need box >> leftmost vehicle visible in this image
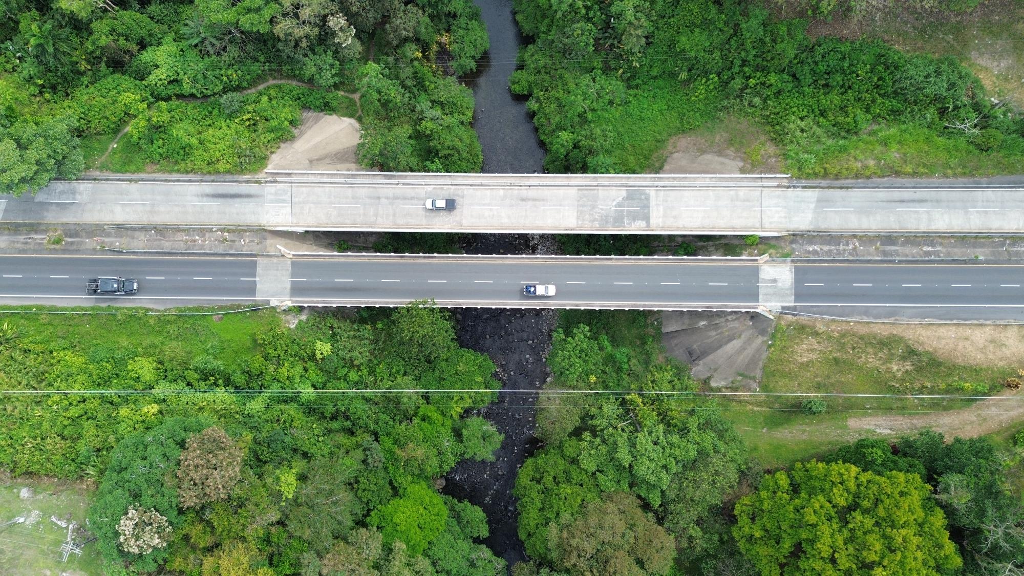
[86,277,140,295]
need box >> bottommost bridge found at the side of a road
[256,245,794,320]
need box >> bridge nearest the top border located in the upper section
[263,170,794,237]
